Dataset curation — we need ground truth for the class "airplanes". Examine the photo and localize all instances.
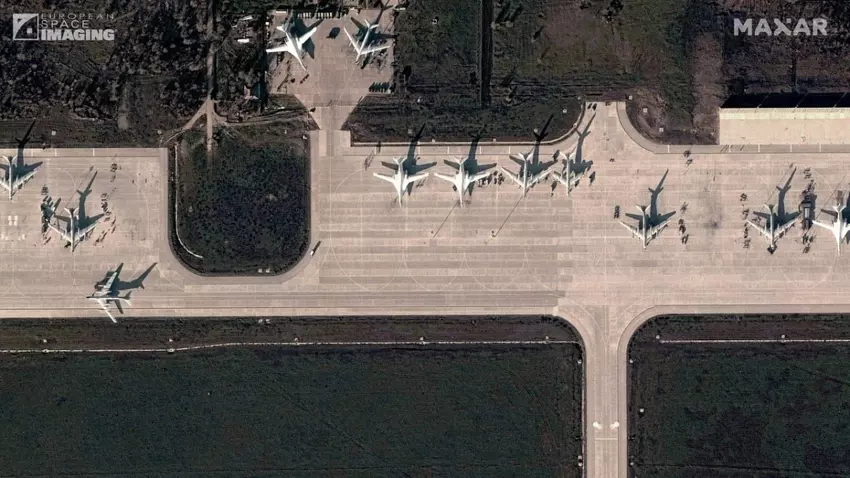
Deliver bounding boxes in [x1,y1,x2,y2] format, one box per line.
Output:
[266,22,316,70]
[87,273,134,323]
[554,149,583,195]
[0,153,36,202]
[748,202,799,250]
[344,20,390,66]
[620,202,670,250]
[501,151,551,198]
[813,202,850,255]
[434,154,490,207]
[48,205,98,252]
[374,156,428,207]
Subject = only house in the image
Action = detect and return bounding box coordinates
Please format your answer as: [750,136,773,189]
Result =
[244,79,260,99]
